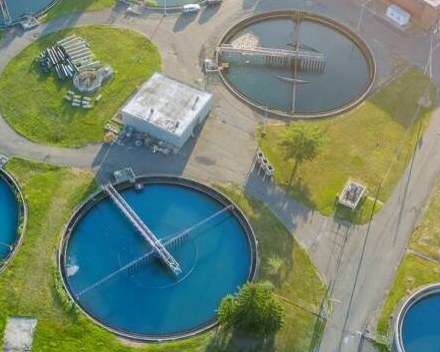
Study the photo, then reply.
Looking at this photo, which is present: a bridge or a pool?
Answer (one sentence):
Looking from above, you can make out a bridge.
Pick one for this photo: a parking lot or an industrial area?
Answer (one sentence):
It's an industrial area.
